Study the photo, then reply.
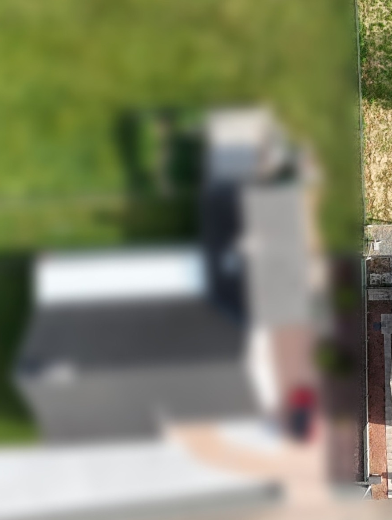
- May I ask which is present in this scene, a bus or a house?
house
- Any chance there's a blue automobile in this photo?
No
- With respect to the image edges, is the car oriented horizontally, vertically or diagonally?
vertically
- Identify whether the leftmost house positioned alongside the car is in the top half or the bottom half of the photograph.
bottom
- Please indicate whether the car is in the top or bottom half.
bottom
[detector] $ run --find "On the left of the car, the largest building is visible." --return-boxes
[10,293,278,446]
